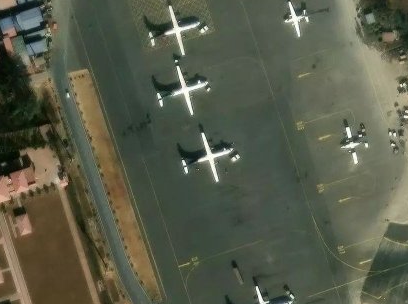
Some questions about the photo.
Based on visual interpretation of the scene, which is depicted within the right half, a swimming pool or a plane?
plane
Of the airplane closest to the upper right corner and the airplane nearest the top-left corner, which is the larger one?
the airplane nearest the top-left corner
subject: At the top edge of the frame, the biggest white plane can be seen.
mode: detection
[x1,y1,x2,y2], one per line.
[149,6,200,56]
